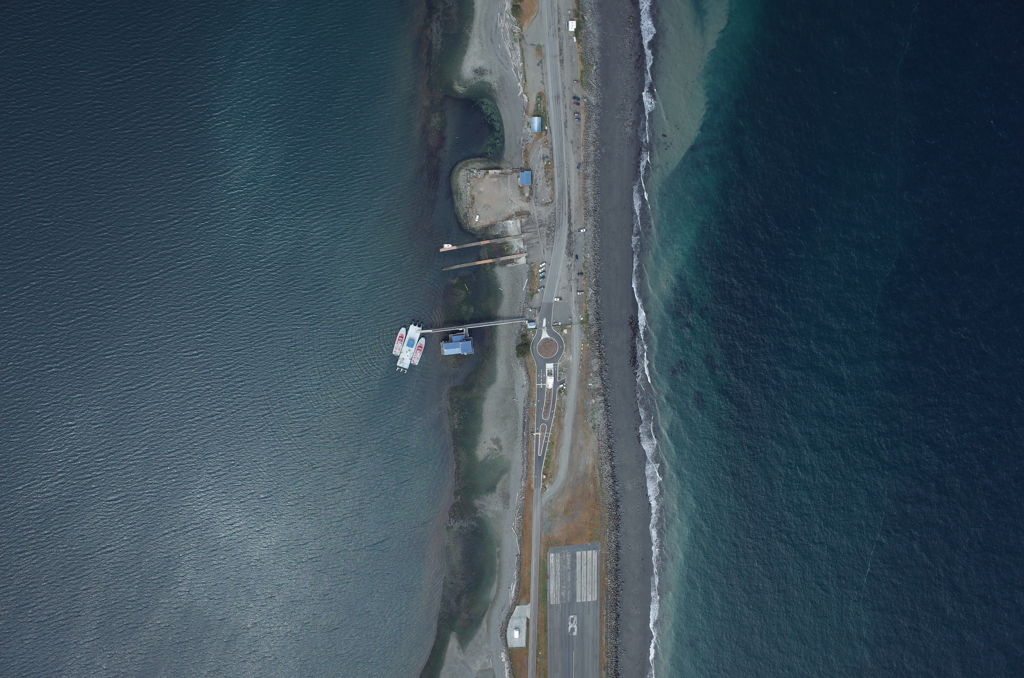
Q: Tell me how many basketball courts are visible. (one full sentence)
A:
No basketball courts are visible.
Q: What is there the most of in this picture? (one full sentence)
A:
For the most part, this view shows water.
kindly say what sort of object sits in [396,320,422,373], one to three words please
ship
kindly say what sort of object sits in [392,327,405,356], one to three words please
boat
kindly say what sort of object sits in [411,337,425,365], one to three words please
boat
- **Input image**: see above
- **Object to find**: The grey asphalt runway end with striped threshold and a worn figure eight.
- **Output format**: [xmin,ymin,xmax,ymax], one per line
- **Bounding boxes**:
[547,543,600,678]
